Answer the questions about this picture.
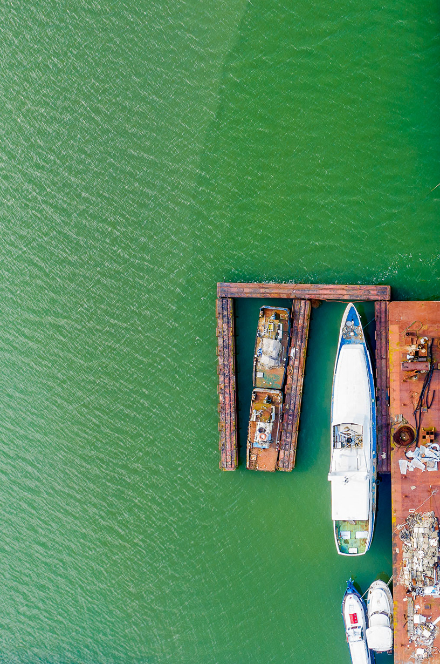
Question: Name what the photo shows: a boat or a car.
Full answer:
The one in the frame is a boat.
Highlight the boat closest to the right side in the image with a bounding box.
[366,579,393,656]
